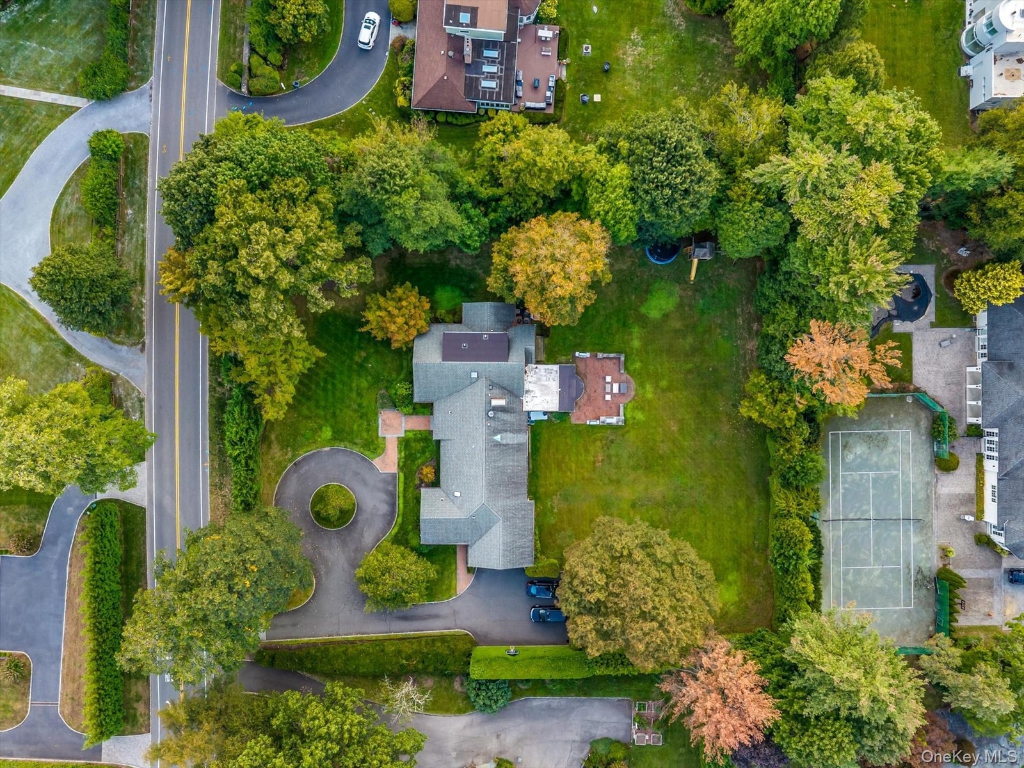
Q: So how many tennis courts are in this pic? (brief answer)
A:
1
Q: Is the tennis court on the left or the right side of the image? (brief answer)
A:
right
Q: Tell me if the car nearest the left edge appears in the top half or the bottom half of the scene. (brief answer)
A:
top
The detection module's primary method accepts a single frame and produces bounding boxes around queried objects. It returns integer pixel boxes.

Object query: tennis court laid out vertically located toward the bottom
[820,395,935,647]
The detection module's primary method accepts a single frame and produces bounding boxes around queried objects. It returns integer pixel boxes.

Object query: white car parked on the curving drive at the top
[359,12,380,51]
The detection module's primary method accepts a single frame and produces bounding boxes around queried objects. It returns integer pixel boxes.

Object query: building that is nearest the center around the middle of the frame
[411,303,584,569]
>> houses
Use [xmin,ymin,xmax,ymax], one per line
[961,0,1024,110]
[411,0,540,117]
[966,295,1024,559]
[411,303,584,569]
